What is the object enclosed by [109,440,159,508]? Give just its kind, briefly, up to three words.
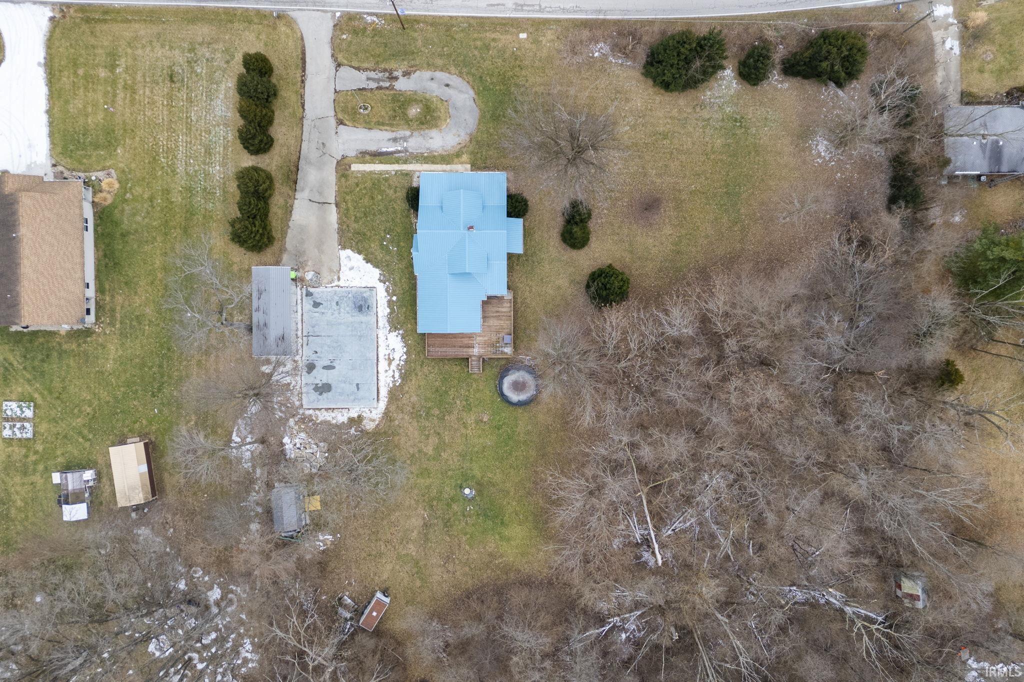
shed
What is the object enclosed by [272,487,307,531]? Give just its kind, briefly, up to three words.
shed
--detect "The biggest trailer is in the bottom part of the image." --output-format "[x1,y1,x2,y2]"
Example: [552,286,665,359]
[359,584,394,632]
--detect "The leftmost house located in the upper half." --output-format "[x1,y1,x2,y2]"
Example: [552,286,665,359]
[0,173,95,325]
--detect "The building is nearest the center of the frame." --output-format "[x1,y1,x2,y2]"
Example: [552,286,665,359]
[412,171,524,333]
